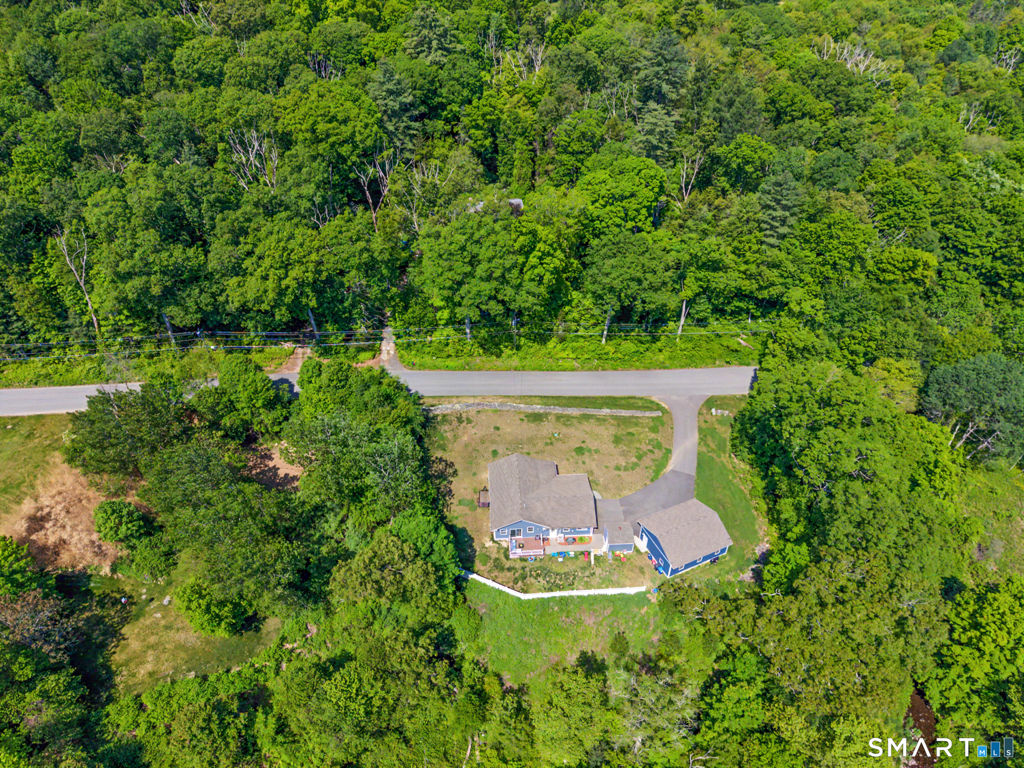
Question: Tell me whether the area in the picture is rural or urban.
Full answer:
The land in this view is best described as rural.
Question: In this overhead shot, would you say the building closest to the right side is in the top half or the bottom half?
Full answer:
Seen from above, the building closest to the right side lies in the bottom half of the view.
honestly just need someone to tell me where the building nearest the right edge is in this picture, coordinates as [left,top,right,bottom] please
[637,498,732,578]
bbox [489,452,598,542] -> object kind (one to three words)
house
